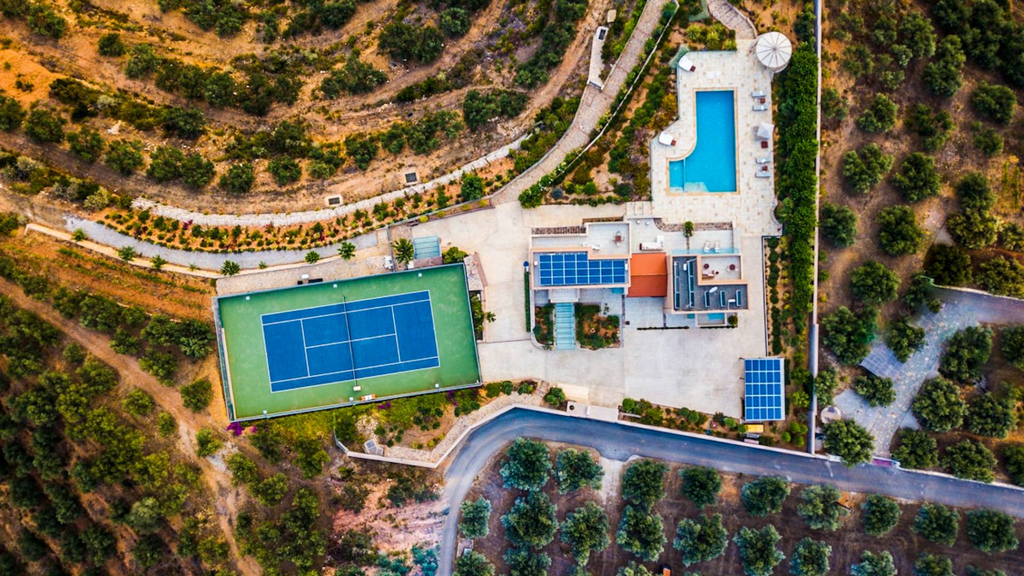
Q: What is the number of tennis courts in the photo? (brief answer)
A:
one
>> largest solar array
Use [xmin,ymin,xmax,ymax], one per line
[540,253,625,286]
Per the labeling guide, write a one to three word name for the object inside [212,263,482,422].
tennis court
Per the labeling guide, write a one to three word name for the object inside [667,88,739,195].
swimming pool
